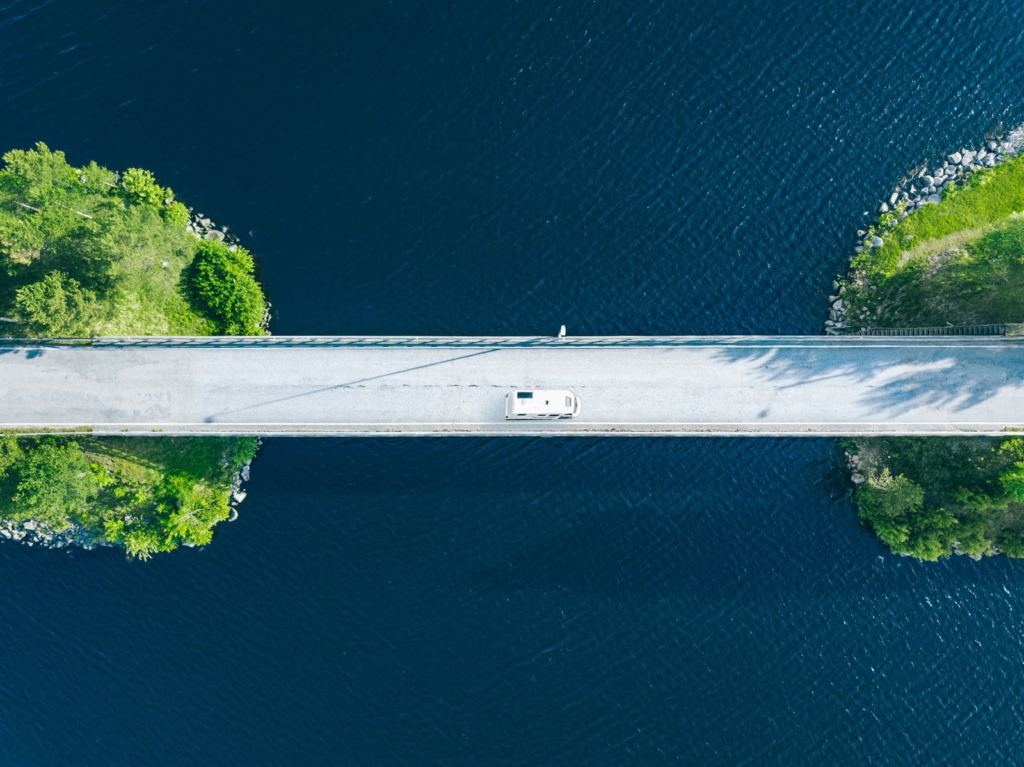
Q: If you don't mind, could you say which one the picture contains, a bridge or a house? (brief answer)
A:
bridge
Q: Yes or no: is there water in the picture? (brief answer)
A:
Yes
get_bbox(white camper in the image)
[505,389,581,418]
